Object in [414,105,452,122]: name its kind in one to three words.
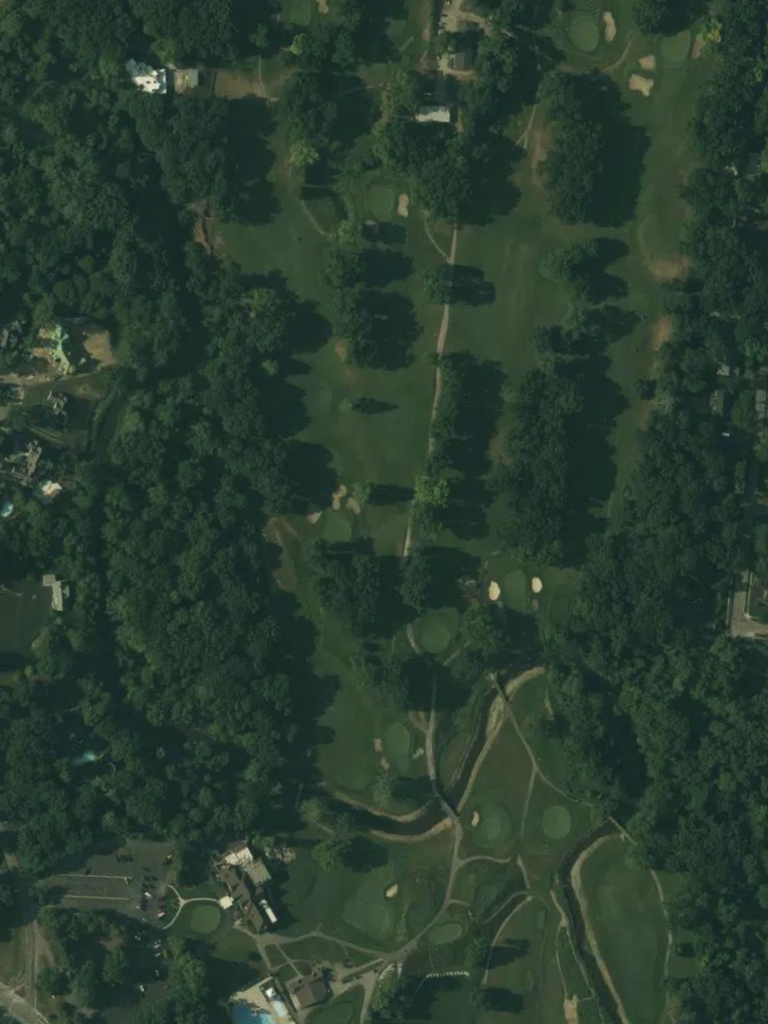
shed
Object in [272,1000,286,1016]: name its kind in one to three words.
swimming pool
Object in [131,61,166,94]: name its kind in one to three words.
house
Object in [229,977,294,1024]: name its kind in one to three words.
swimming pool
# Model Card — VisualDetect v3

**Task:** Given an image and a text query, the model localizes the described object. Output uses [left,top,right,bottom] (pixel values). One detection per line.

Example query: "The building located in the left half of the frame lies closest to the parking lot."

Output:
[219,840,277,936]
